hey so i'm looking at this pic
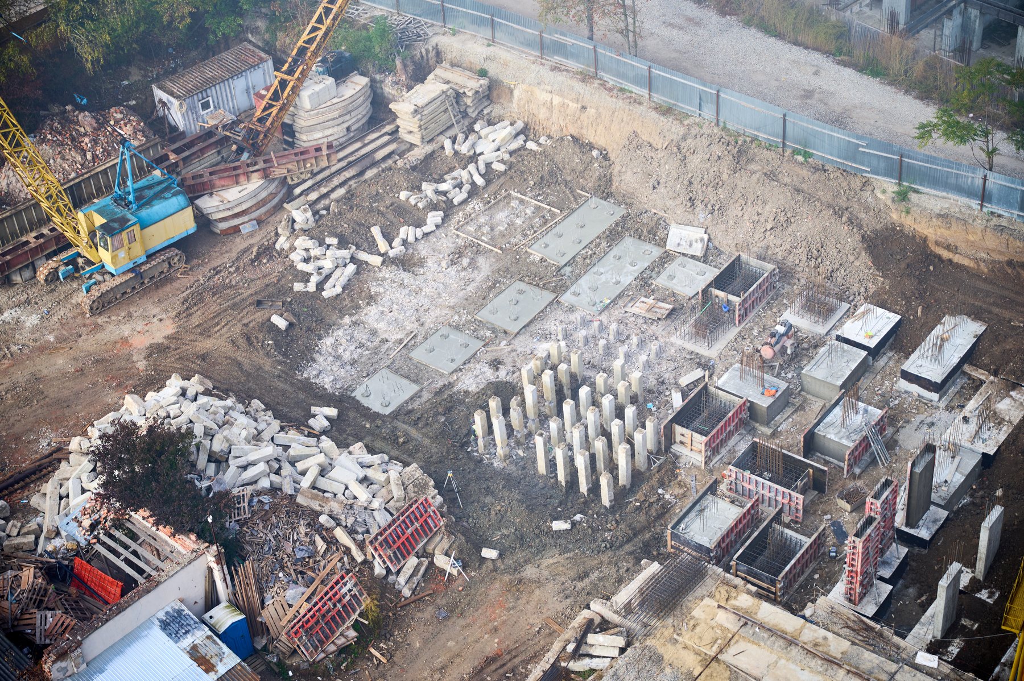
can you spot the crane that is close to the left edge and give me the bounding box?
[0,32,199,314]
